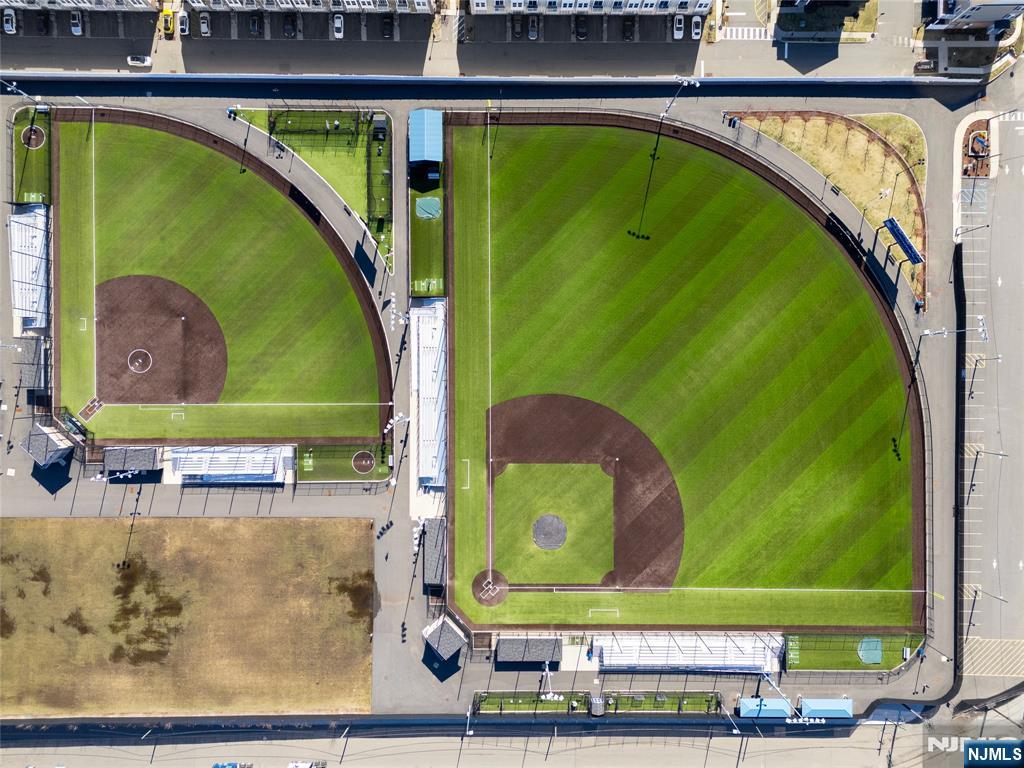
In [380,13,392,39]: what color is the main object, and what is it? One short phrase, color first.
black vehicle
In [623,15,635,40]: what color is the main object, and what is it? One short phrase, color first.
black vehicle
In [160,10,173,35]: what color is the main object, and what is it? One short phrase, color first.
yellow vehicle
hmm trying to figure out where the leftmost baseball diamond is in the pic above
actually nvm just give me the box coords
[52,107,392,446]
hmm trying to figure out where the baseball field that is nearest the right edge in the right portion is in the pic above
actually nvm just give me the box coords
[447,108,926,631]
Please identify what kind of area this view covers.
sports ground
